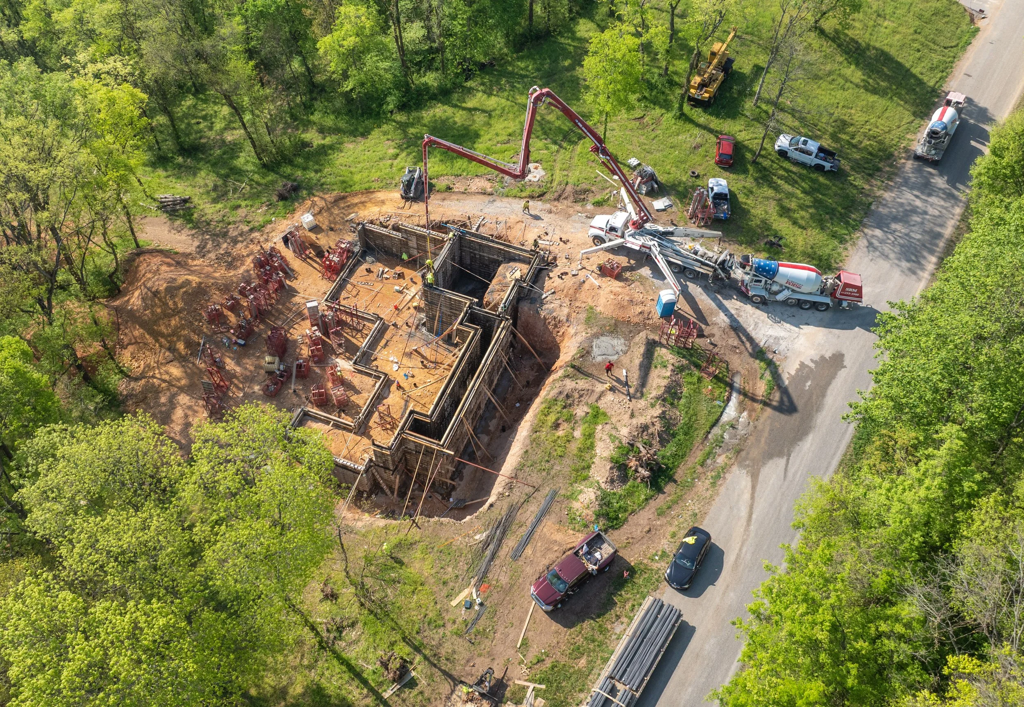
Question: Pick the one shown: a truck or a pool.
truck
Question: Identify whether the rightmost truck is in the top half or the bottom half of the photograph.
top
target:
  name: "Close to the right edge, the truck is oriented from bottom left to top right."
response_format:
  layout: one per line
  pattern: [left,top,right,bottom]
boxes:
[918,87,977,158]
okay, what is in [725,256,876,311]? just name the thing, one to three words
truck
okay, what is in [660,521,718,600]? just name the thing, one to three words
car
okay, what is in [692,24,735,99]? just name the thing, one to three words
crane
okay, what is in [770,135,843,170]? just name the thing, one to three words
truck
